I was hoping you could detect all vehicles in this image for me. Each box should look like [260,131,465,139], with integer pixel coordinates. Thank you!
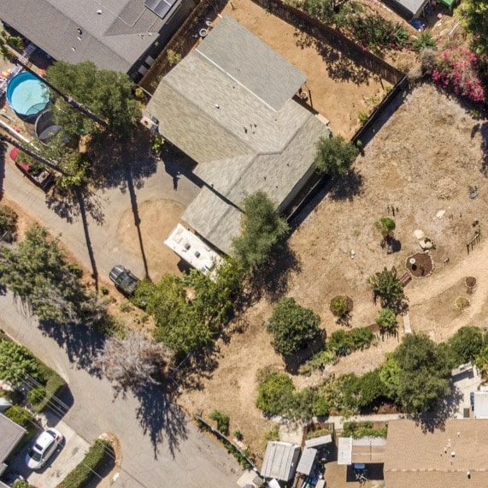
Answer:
[5,148,53,188]
[100,259,143,303]
[153,218,240,285]
[21,426,64,470]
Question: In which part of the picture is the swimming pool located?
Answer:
top left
